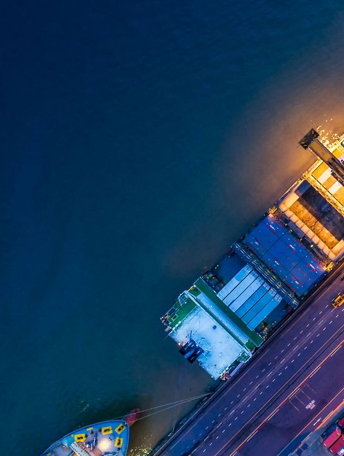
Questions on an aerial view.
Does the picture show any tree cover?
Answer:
No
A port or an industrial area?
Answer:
port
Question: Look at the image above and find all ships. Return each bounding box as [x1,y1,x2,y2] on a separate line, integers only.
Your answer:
[162,134,344,383]
[42,409,142,456]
